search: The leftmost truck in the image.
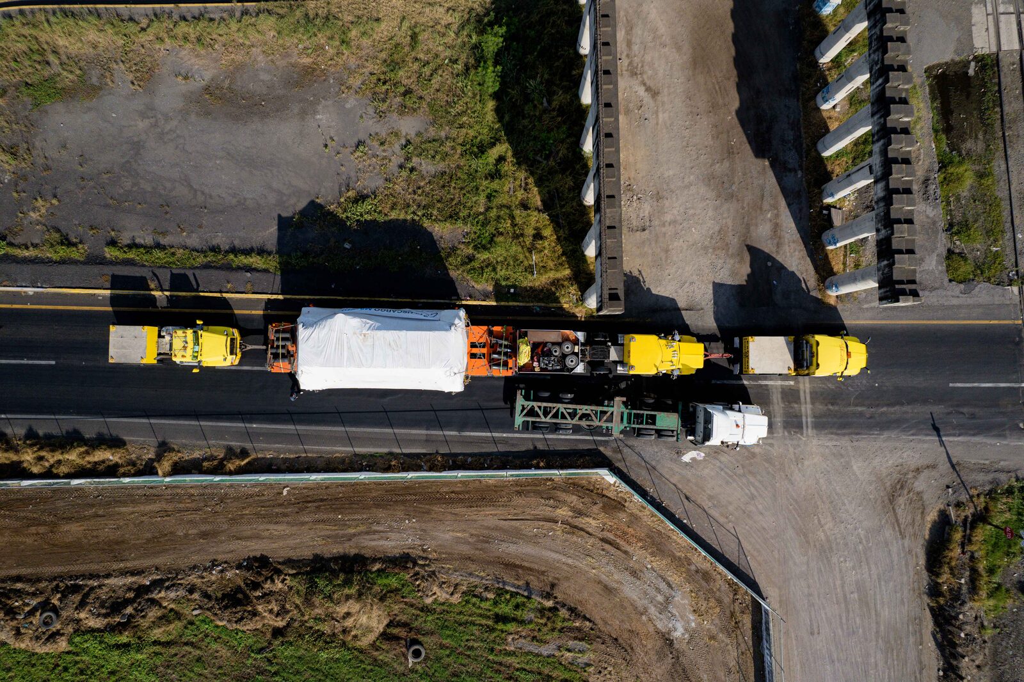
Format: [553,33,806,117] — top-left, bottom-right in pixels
[110,320,245,371]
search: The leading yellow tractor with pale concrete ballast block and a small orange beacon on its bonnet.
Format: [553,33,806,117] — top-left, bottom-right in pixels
[727,330,873,382]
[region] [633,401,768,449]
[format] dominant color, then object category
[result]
white truck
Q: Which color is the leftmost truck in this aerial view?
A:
yellow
